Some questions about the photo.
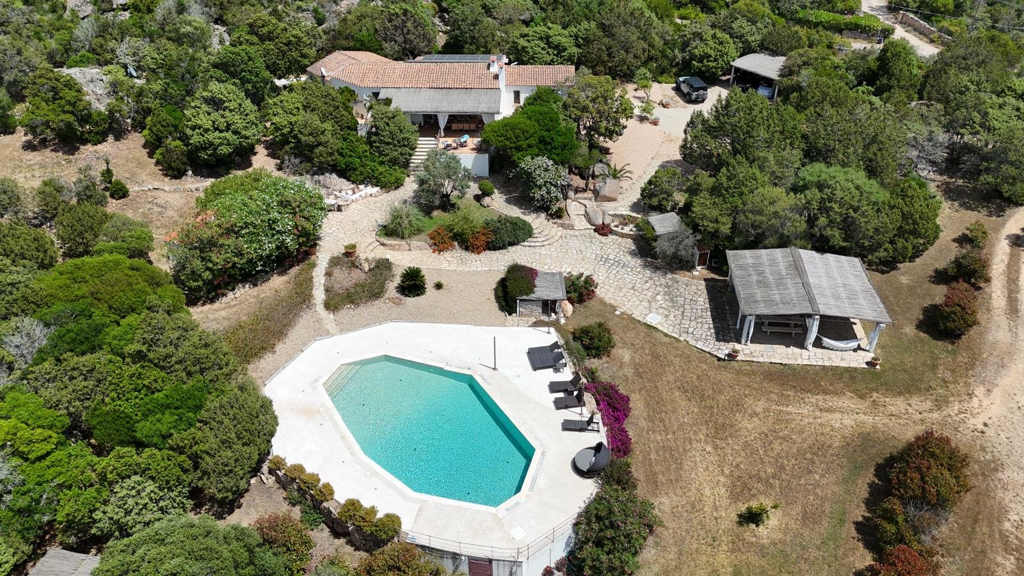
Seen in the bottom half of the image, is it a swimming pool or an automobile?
swimming pool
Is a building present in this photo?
Yes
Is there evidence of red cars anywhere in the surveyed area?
No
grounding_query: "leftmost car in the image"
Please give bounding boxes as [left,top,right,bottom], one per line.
[673,72,710,98]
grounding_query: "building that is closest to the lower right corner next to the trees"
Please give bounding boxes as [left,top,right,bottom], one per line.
[715,244,892,381]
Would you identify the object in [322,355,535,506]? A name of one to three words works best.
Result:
swimming pool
